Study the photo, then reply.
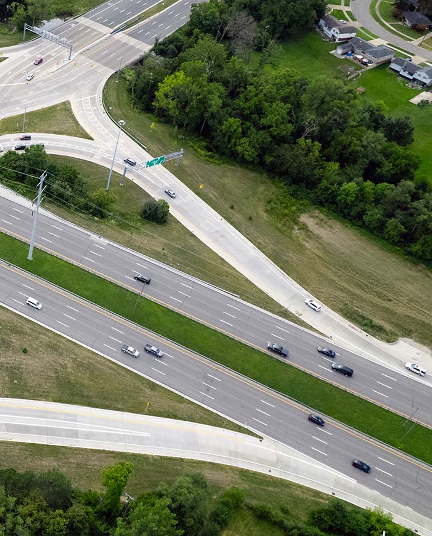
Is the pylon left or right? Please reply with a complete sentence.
The pylon sits on the left side.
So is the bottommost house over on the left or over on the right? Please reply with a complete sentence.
The bottommost house sits on the right side.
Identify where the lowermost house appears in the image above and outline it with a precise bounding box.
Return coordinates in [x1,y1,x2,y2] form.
[391,55,432,89]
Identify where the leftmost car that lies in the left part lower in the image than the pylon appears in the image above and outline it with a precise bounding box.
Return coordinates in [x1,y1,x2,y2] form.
[25,297,43,309]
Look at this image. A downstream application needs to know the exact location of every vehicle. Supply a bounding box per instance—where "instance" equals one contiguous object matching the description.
[120,343,141,358]
[25,74,34,80]
[164,189,176,198]
[331,362,354,378]
[124,158,136,165]
[350,458,371,473]
[25,297,43,309]
[305,300,321,311]
[133,272,152,285]
[405,363,425,374]
[317,347,336,359]
[19,135,31,141]
[266,343,288,357]
[306,412,326,426]
[34,58,43,64]
[143,343,164,358]
[14,145,27,151]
